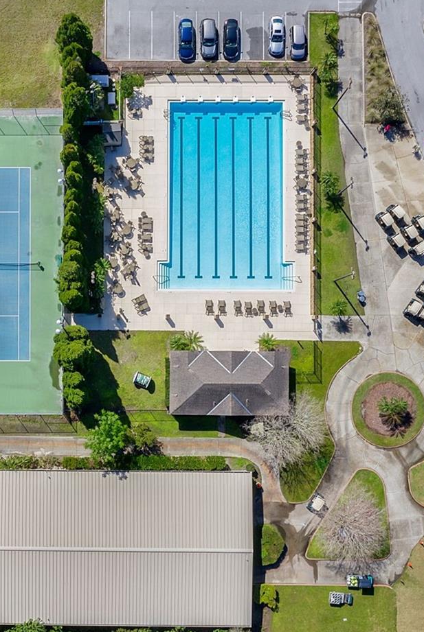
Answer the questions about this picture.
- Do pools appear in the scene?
Yes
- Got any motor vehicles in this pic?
Yes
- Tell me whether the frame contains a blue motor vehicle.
Yes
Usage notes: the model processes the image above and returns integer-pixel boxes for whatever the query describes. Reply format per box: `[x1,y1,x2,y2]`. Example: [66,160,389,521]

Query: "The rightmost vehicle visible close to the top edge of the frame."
[289,24,308,62]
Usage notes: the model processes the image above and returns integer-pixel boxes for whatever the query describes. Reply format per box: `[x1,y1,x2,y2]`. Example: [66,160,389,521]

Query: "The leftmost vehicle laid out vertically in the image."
[178,20,196,61]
